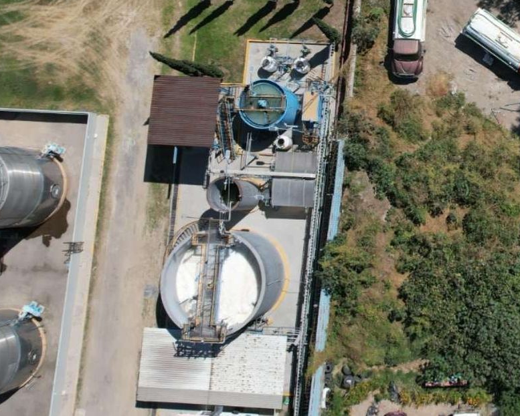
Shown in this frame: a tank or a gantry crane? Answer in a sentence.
It is a tank that can be seen here.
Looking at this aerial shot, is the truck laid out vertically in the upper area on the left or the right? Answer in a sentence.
You can find the truck laid out vertically in the upper area on the right side of the picture.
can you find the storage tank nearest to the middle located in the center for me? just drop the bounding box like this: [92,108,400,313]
[204,176,268,219]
